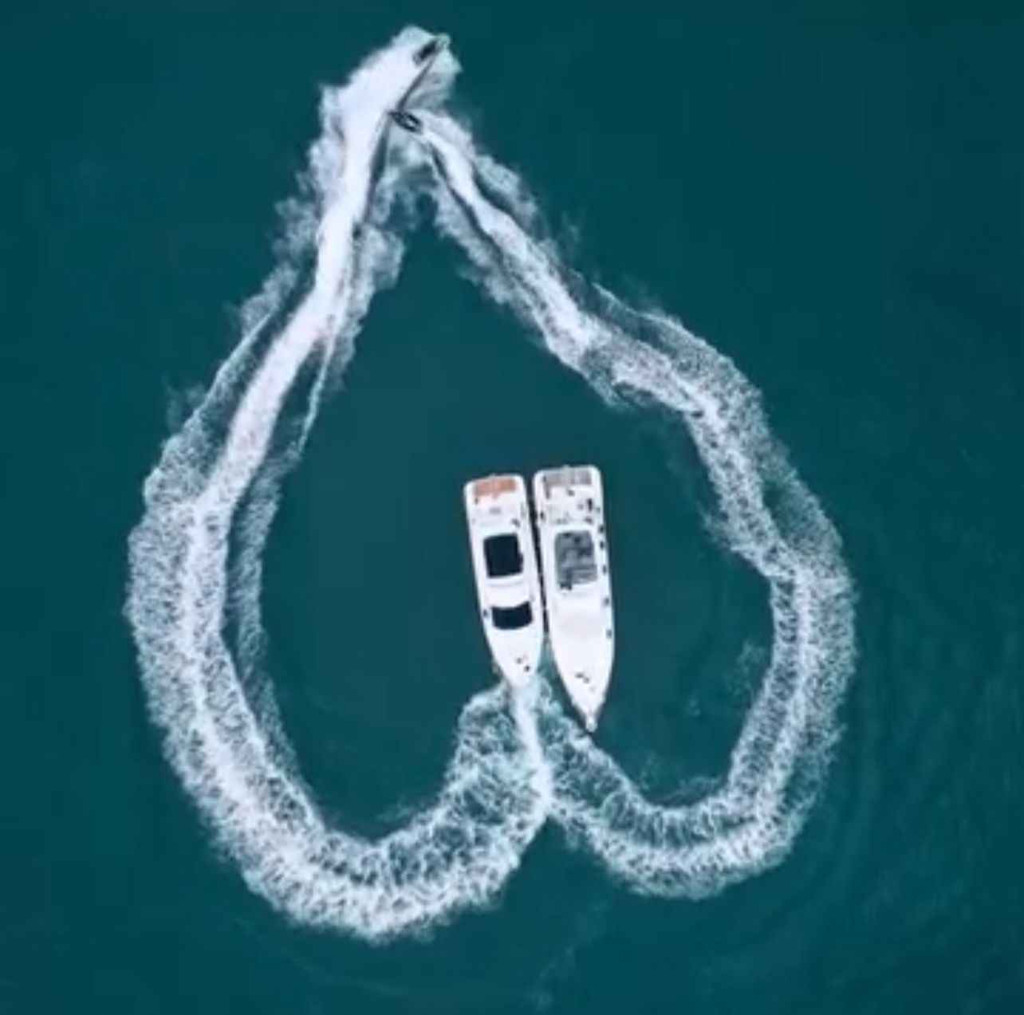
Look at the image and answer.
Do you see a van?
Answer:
No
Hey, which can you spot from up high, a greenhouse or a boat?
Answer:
boat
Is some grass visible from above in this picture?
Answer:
No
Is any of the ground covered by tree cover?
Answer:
No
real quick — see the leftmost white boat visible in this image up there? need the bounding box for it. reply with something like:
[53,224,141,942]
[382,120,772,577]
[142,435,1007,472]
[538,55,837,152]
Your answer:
[466,474,543,691]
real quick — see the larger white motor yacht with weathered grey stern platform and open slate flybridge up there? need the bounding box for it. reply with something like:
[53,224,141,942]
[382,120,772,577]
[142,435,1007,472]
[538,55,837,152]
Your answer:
[534,465,615,730]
